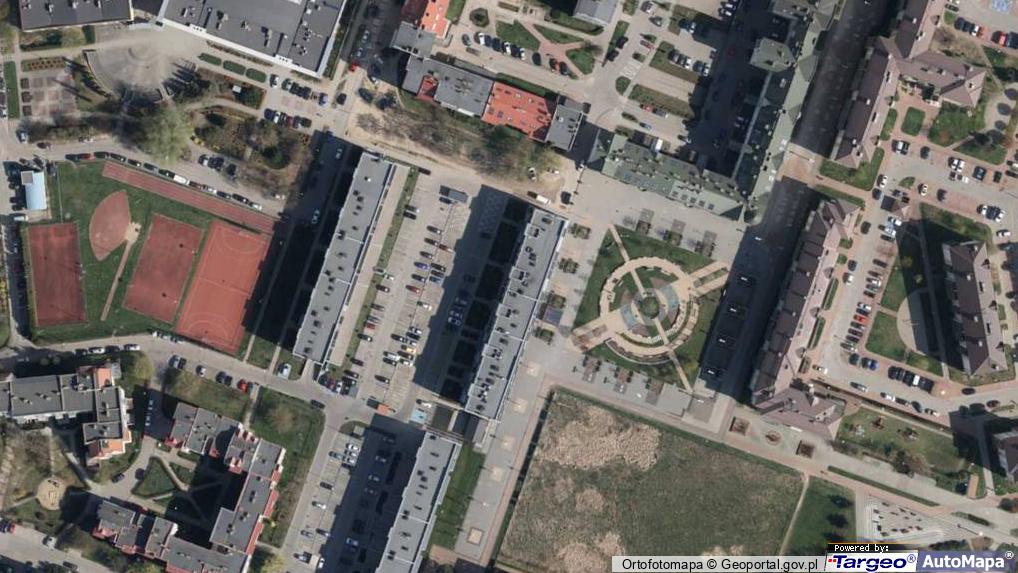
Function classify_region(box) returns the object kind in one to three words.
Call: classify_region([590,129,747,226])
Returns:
house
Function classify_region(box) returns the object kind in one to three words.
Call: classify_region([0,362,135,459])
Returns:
building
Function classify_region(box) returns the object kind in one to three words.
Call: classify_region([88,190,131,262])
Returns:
sports field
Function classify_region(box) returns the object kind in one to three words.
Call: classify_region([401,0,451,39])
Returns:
house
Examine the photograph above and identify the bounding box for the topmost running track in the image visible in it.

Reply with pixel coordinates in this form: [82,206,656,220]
[101,160,276,235]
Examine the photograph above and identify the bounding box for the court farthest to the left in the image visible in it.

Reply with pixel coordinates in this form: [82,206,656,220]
[28,222,86,326]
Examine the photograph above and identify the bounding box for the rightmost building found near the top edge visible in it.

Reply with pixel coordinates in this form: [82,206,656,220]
[834,0,985,170]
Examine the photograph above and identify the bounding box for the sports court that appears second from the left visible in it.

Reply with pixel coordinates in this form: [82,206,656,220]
[122,212,204,324]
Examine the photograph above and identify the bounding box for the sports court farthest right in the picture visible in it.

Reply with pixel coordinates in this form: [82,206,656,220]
[175,221,271,357]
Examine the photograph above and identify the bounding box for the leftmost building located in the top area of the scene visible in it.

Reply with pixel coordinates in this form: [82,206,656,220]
[21,171,50,211]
